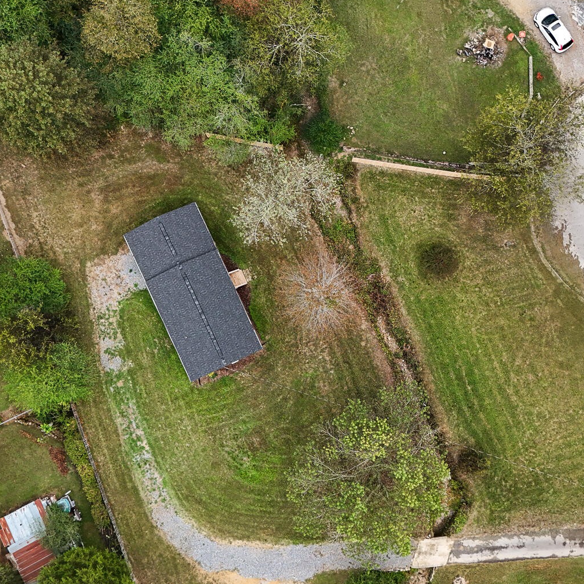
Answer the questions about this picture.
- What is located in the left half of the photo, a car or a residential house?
residential house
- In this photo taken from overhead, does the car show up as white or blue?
white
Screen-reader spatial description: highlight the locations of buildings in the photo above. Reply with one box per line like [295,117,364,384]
[123,202,268,386]
[0,499,59,584]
